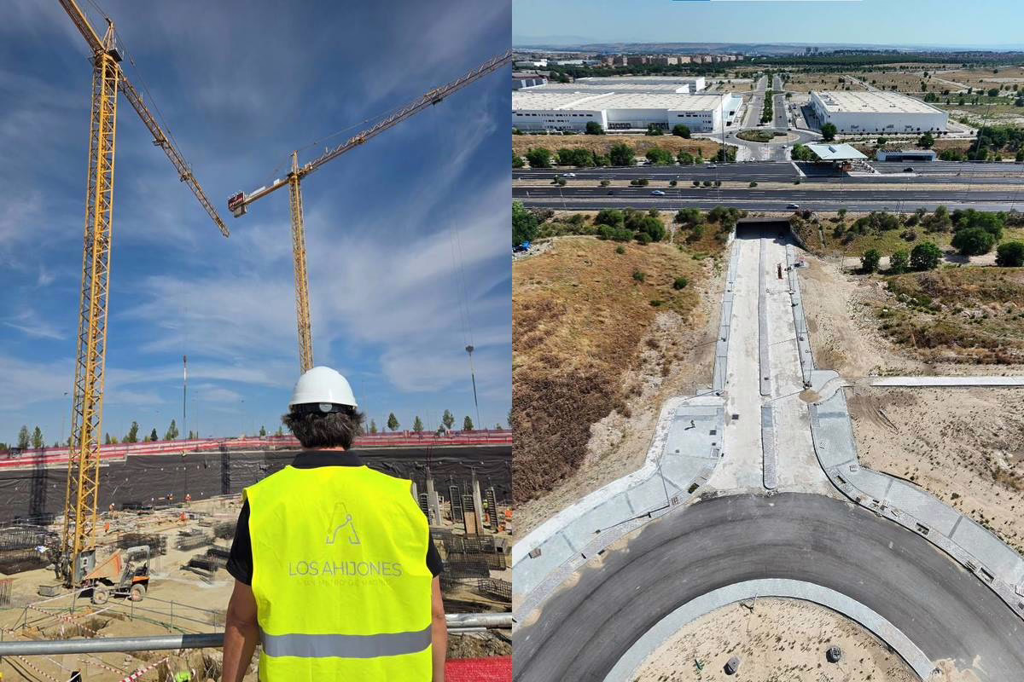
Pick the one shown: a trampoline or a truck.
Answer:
truck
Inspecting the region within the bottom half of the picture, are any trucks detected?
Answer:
Yes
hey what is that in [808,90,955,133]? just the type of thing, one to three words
building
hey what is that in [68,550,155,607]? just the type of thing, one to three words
truck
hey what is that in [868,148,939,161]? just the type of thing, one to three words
building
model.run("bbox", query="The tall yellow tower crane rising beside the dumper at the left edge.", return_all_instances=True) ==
[50,0,234,593]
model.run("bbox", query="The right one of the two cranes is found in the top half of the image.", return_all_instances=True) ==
[225,46,511,451]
